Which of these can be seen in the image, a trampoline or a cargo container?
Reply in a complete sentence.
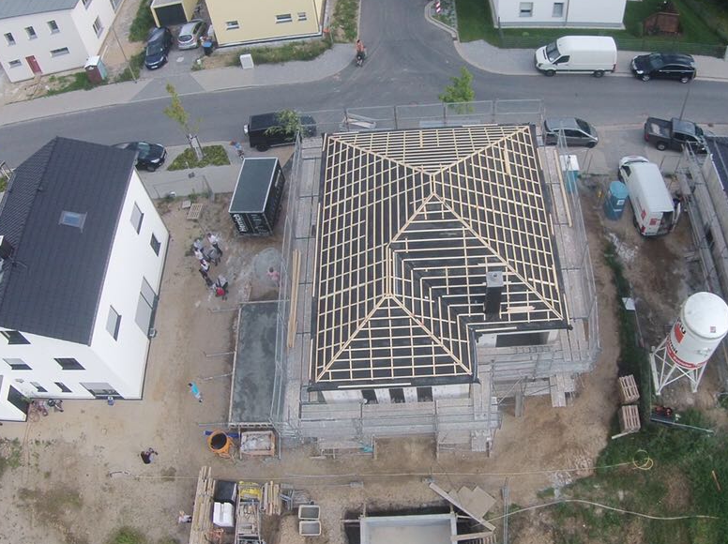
Looking from above, you can make out a cargo container.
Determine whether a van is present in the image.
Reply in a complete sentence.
Yes, there's a van here.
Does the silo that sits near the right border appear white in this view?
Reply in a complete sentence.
Yes, the silo that sits near the right border is white.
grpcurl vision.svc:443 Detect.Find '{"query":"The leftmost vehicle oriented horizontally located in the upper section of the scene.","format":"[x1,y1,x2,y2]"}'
[104,138,165,166]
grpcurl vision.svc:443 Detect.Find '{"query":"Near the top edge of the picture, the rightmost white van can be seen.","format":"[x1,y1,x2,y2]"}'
[540,27,621,69]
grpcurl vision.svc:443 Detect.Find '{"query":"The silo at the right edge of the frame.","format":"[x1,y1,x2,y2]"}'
[649,299,728,394]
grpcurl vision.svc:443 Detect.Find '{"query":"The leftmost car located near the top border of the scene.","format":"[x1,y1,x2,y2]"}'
[136,26,174,69]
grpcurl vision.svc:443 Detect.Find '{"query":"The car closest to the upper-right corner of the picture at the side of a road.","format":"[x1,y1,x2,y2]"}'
[635,47,699,79]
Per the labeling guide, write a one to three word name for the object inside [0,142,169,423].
house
